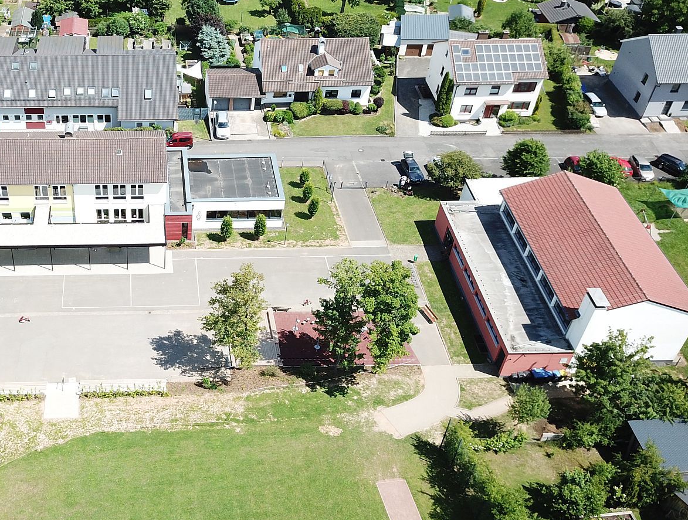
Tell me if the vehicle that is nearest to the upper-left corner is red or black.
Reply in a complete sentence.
From above, the vehicle that is nearest to the upper-left corner appears red.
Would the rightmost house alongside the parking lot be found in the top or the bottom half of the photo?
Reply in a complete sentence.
The top half of the photo is where the rightmost house alongside the parking lot is.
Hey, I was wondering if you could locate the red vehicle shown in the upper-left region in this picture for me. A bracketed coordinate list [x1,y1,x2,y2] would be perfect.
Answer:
[165,129,199,148]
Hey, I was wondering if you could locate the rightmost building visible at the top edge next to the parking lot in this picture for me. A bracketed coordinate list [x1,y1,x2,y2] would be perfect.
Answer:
[603,22,688,122]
